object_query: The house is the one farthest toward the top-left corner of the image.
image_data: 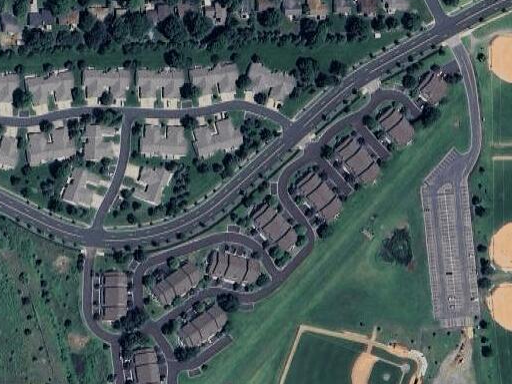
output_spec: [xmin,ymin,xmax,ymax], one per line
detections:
[0,15,22,37]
